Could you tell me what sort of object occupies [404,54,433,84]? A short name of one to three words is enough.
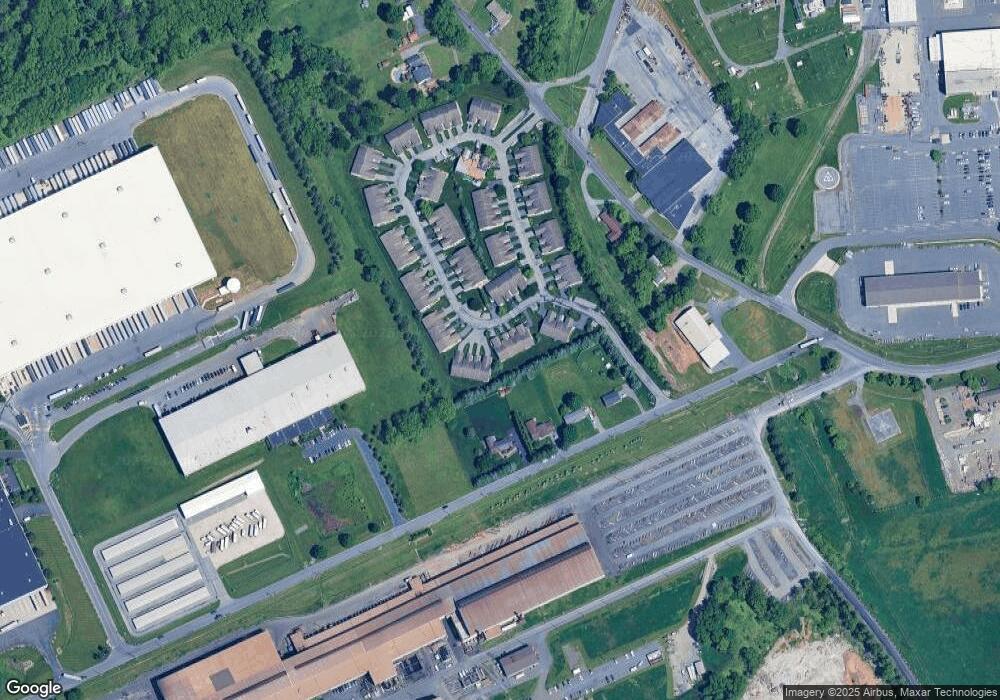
house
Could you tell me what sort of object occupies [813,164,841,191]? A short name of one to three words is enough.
helipad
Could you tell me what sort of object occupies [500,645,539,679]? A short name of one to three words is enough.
building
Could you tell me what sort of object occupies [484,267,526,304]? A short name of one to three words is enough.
house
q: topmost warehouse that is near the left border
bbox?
[0,147,220,375]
